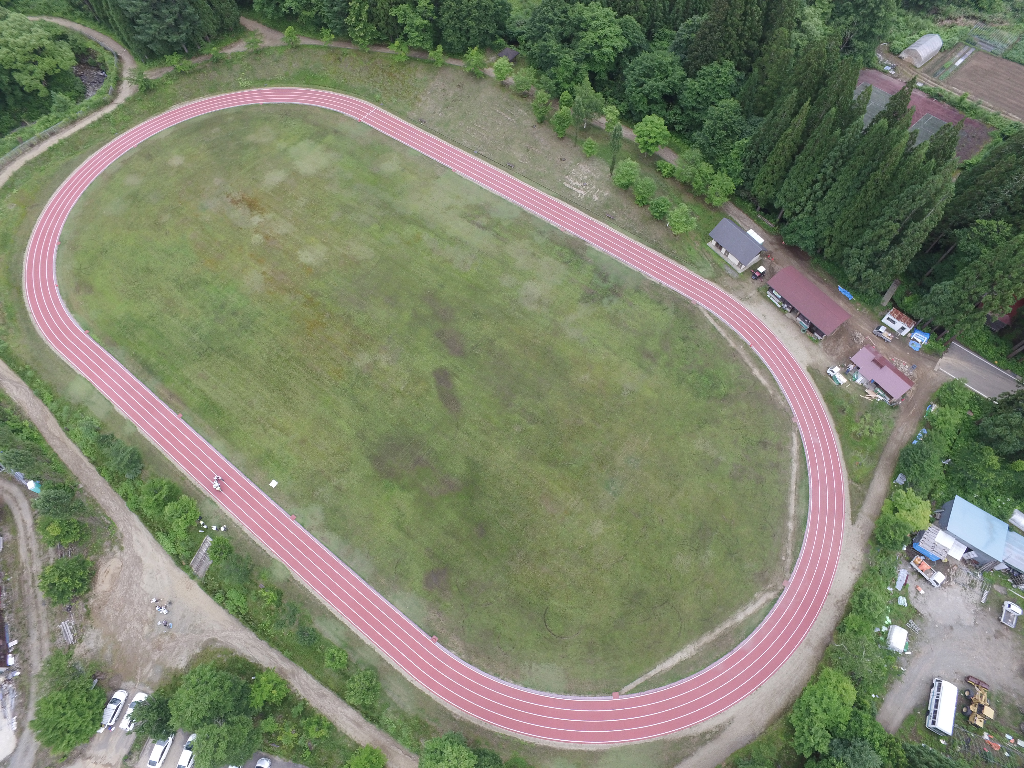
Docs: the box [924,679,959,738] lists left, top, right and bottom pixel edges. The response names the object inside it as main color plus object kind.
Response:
white bus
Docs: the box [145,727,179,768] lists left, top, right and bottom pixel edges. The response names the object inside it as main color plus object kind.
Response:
white car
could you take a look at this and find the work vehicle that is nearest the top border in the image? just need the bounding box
[747,265,766,284]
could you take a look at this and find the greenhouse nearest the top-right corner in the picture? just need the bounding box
[899,26,947,66]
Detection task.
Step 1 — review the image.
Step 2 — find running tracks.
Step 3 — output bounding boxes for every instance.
[25,88,845,743]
